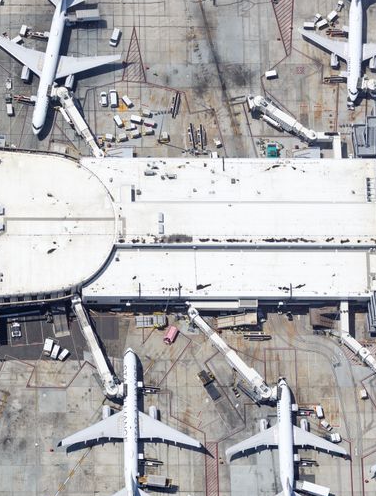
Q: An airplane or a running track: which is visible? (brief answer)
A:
airplane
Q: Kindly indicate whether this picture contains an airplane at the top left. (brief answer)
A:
Yes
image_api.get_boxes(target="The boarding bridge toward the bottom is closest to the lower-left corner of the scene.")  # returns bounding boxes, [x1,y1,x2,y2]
[71,296,125,397]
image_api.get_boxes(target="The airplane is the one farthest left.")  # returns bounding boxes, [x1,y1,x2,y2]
[0,0,118,134]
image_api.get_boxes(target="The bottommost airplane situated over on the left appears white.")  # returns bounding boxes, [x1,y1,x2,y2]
[58,349,201,496]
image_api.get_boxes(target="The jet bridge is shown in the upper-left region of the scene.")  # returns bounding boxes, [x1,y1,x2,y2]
[49,84,105,158]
